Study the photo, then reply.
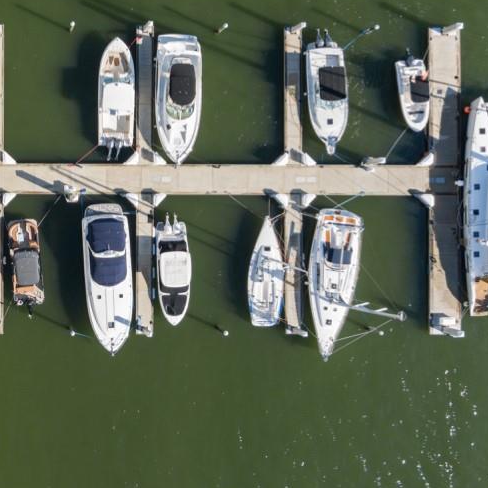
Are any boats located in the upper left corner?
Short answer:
Yes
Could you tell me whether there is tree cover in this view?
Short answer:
No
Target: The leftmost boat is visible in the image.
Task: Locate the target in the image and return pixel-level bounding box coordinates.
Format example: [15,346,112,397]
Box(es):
[9,218,43,320]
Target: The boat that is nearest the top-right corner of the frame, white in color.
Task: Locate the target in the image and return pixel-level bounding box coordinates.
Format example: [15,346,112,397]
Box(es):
[394,45,431,132]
